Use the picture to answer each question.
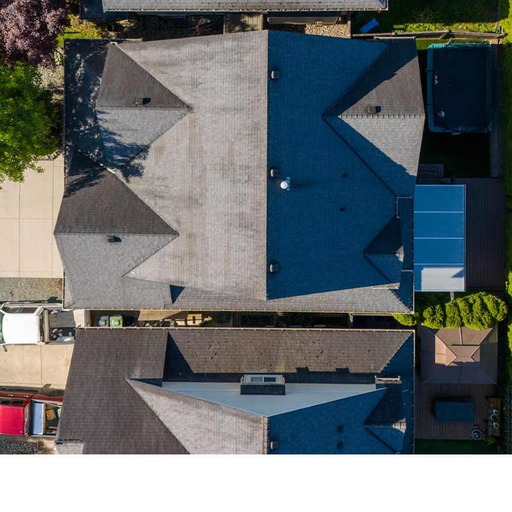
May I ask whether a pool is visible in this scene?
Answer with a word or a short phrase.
No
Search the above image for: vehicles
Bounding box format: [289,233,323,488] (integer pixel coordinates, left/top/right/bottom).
[0,302,74,343]
[0,388,66,432]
